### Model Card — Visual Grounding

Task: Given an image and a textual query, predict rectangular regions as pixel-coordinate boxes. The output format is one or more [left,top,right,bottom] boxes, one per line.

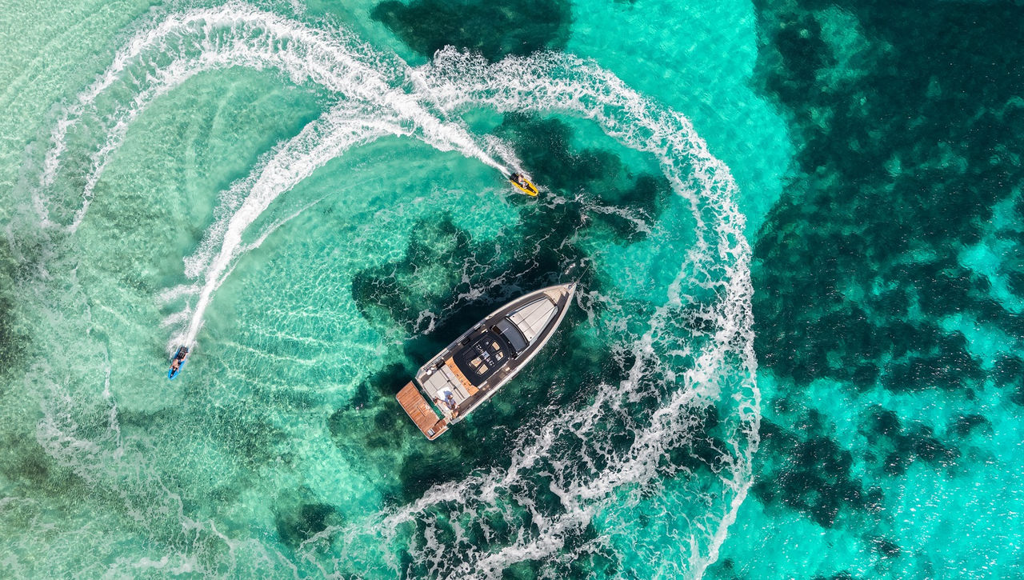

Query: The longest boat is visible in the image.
[398,267,586,437]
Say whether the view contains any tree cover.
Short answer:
No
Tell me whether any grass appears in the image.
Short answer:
No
